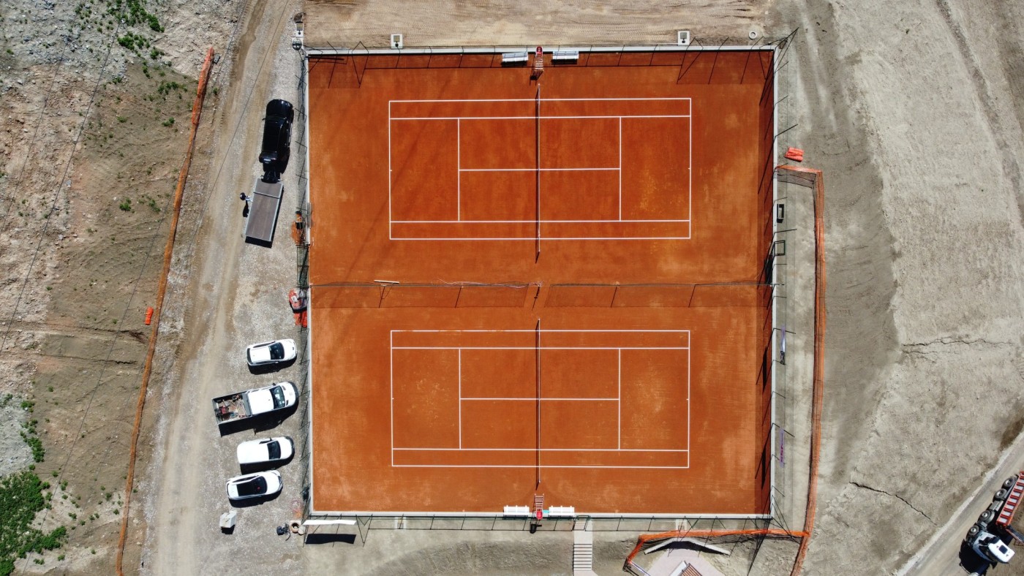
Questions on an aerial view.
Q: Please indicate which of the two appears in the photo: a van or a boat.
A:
van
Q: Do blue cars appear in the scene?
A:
No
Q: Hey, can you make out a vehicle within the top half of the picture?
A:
Yes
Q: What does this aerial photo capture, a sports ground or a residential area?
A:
sports ground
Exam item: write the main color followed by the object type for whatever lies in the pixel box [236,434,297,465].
white van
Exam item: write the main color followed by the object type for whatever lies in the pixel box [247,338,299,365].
white car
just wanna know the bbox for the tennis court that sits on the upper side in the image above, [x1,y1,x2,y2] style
[310,50,774,285]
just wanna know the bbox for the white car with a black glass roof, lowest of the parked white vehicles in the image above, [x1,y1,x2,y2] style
[227,469,284,500]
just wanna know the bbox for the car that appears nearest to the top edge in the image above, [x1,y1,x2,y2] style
[258,100,294,164]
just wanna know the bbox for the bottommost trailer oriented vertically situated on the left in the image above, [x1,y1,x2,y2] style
[246,169,282,241]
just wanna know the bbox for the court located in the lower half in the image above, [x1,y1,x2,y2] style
[313,284,771,514]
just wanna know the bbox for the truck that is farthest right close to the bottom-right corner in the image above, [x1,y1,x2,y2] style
[964,475,1024,568]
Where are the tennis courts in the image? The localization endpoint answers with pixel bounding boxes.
[310,50,774,285]
[313,284,771,514]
